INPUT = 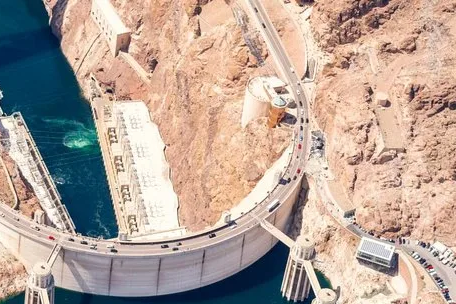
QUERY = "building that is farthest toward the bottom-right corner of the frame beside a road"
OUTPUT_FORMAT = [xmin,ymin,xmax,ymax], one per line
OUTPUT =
[353,237,395,274]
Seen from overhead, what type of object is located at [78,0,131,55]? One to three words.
building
